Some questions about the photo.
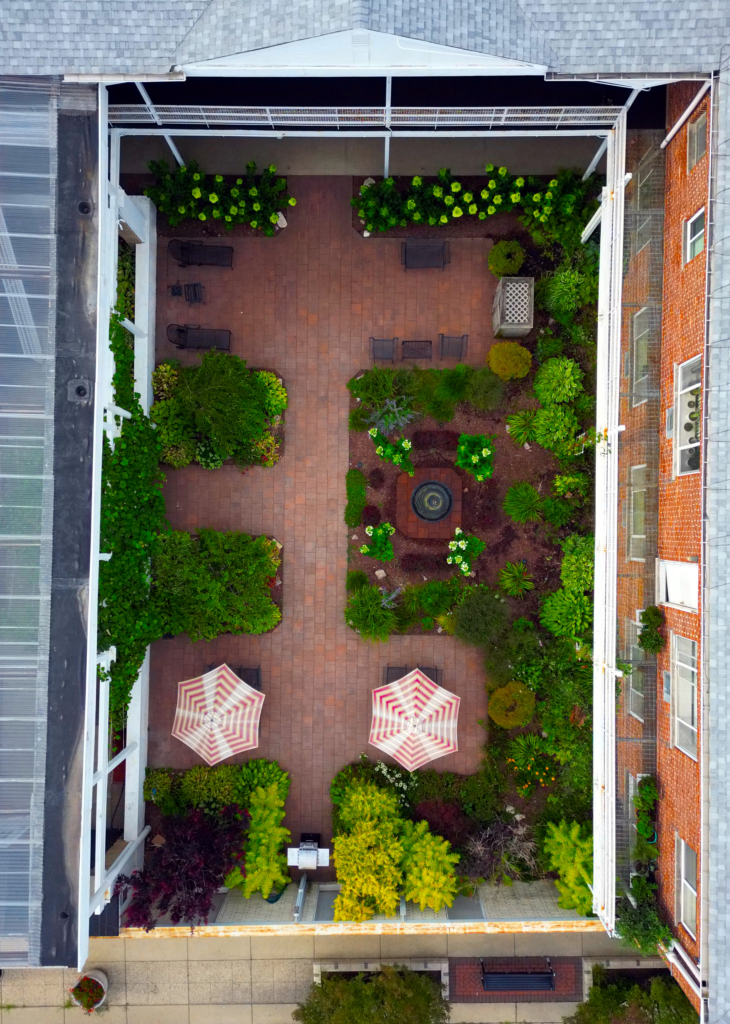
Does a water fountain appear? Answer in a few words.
Yes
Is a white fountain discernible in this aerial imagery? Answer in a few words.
No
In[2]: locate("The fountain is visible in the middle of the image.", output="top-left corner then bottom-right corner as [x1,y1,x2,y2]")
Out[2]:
[411,479,453,521]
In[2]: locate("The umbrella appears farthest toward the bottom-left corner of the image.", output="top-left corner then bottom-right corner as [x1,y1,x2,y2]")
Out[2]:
[170,662,267,766]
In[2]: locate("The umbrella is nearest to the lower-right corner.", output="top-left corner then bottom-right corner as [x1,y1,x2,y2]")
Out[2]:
[368,669,462,773]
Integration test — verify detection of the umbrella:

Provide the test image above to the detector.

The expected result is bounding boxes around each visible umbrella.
[170,662,267,766]
[368,669,462,773]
